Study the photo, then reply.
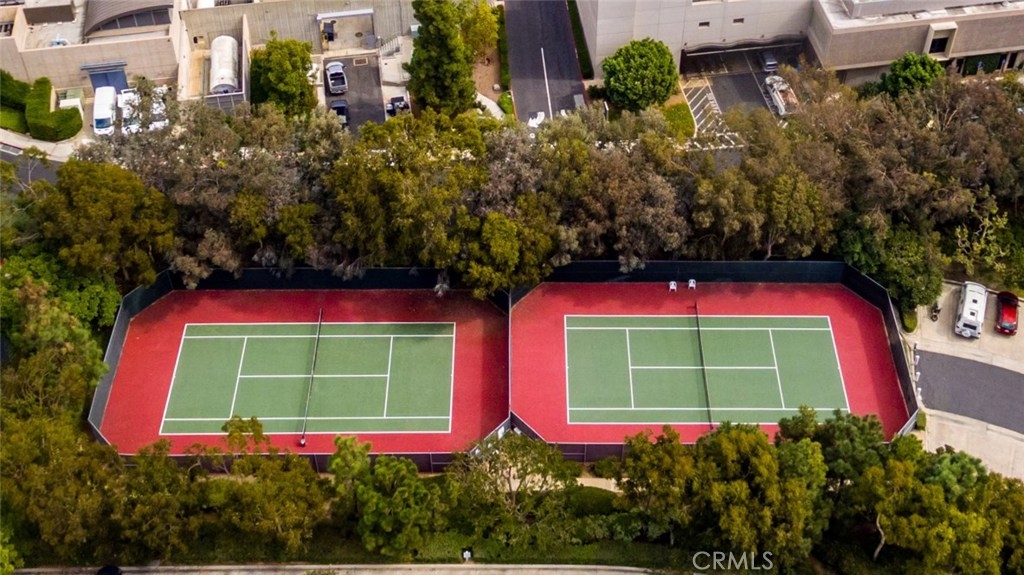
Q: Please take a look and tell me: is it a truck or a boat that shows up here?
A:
truck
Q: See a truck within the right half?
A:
Yes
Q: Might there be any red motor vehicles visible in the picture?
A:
Yes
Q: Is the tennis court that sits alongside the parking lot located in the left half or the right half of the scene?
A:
right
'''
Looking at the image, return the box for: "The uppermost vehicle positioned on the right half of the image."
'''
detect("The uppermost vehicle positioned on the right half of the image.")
[754,47,782,76]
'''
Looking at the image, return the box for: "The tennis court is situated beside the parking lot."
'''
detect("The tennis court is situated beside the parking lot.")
[511,282,909,446]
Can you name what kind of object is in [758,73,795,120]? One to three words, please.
truck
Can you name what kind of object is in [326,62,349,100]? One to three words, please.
truck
